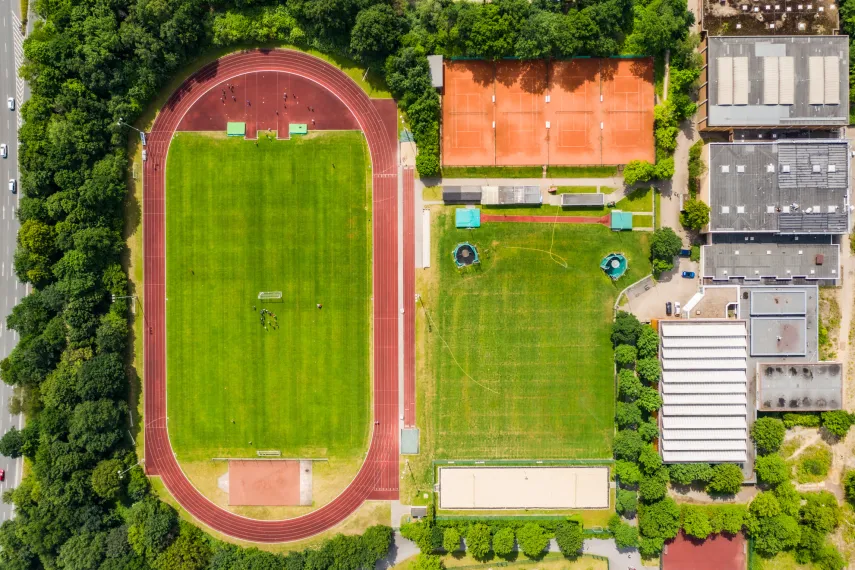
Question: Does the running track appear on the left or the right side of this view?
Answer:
left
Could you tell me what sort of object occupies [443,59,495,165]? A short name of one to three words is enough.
tennis court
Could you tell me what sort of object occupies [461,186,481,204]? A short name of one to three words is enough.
shed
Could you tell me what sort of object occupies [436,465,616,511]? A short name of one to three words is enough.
sports court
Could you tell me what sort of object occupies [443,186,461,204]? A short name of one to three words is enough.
shed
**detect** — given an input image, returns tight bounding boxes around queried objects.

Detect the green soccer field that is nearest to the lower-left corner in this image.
[166,131,372,520]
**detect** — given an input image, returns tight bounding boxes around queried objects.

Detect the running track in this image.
[144,48,399,542]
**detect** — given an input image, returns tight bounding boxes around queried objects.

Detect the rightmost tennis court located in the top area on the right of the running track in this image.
[601,59,655,165]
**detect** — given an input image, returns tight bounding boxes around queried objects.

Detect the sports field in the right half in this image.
[430,224,616,460]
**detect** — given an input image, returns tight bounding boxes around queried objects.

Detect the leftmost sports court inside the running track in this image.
[218,462,312,506]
